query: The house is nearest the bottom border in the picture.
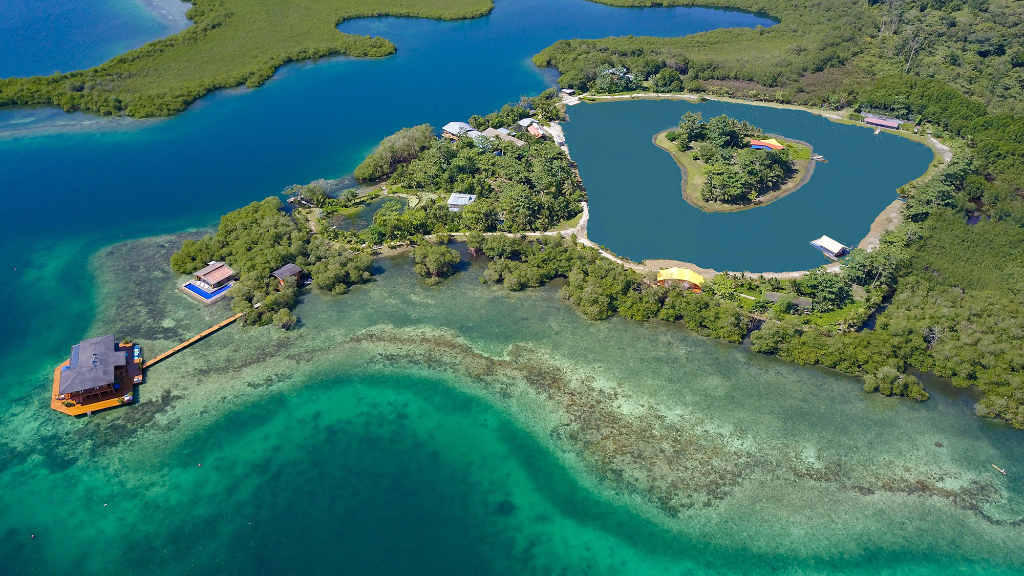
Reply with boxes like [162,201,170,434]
[51,333,143,417]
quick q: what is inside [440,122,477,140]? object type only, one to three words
house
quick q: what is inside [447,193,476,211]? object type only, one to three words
building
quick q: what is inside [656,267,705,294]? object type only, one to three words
house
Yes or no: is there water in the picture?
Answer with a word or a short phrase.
Yes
